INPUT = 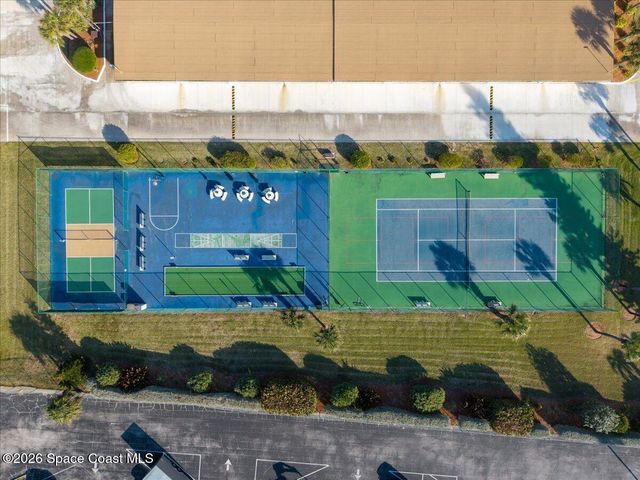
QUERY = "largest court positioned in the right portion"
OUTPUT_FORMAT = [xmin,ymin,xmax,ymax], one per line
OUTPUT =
[329,171,605,309]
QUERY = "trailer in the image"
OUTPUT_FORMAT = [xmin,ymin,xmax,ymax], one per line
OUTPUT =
[144,456,191,480]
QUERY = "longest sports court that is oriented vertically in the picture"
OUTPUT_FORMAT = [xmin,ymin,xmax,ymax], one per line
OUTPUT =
[66,188,114,292]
